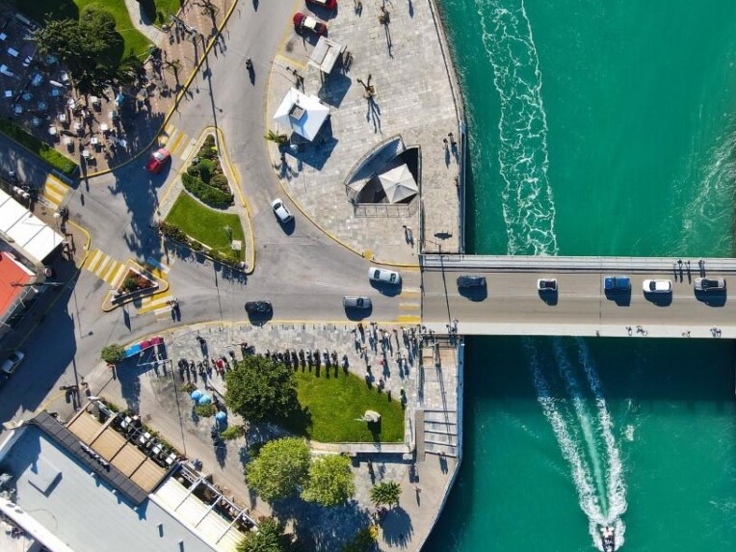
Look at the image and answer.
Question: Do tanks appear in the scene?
No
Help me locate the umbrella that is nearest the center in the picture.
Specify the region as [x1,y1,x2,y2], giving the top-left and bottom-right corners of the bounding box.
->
[384,167,419,204]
